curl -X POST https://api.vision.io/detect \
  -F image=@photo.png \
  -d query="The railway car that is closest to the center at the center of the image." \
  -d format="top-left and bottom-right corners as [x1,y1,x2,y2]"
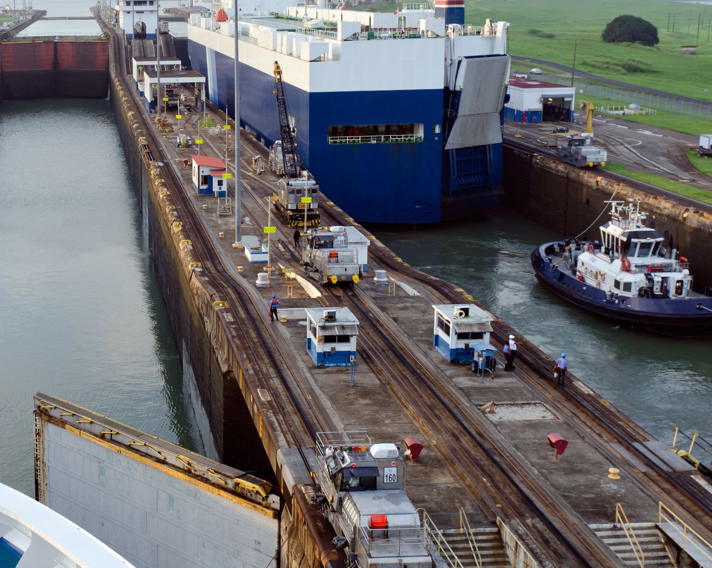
[298,220,357,283]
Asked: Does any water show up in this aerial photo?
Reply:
Yes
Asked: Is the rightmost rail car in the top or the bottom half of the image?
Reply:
top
